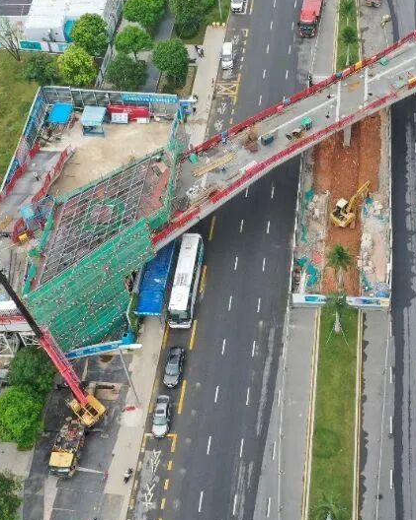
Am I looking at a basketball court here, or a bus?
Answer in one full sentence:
The image shows a bus.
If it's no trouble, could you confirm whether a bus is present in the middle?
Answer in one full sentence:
Yes, a bus shows up in the middle.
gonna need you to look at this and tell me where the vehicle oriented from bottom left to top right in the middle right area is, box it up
[324,179,375,232]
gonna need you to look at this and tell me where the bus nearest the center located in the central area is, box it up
[161,235,203,333]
